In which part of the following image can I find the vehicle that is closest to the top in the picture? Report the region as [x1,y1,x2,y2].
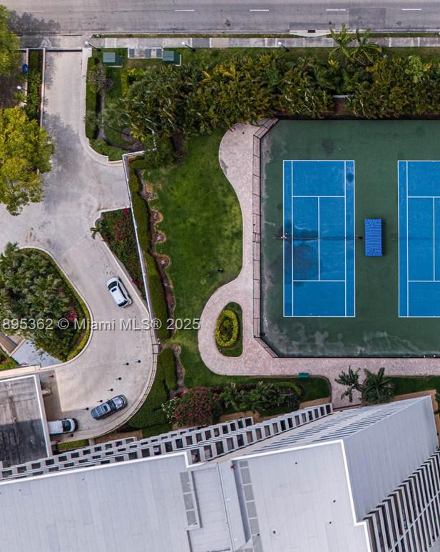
[109,278,133,308]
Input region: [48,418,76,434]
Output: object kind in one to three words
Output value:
car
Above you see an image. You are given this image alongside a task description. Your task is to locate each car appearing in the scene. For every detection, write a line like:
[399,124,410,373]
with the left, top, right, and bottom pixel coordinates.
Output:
[109,278,133,308]
[92,396,126,418]
[48,418,76,434]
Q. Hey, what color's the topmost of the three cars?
white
